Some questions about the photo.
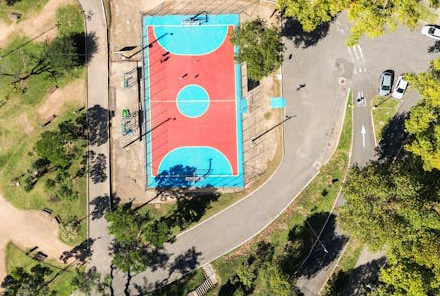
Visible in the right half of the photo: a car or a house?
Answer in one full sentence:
The feature located in the right half of the photo is a car.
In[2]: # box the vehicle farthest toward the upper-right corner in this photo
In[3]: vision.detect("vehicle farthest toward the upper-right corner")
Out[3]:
[420,24,440,40]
